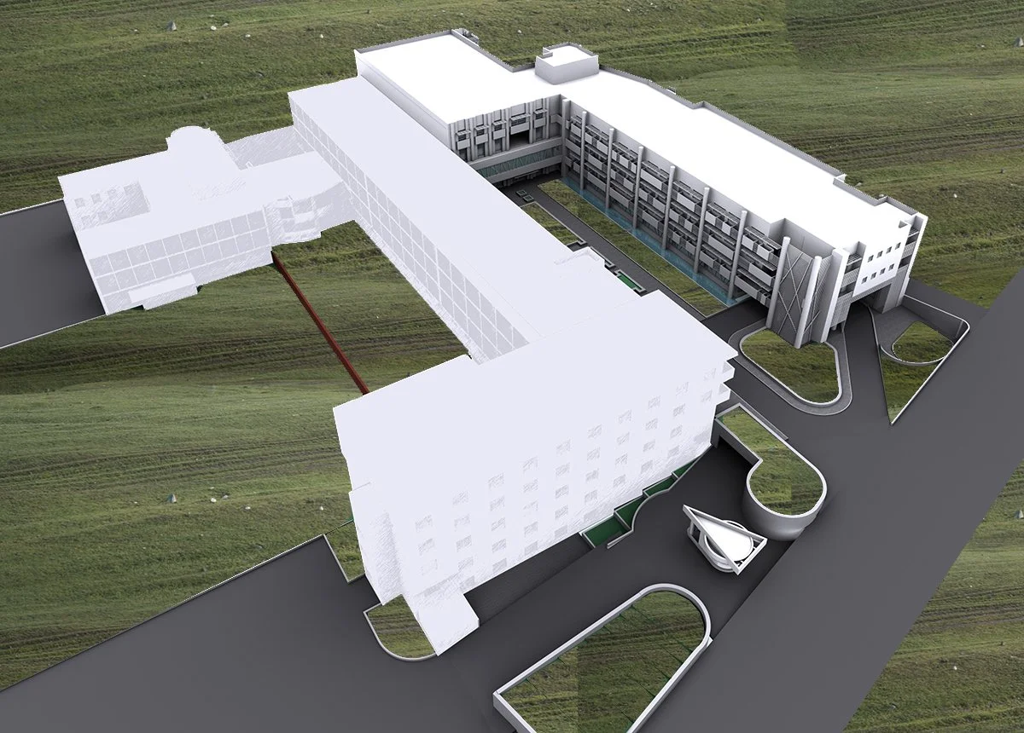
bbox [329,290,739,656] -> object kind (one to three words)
building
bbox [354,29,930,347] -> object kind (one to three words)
building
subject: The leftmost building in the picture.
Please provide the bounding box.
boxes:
[57,128,276,314]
